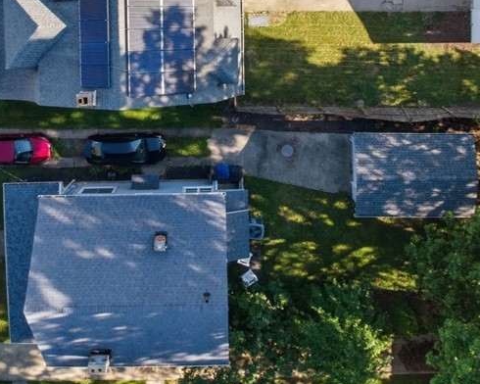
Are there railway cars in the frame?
No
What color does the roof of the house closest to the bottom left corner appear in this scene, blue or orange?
blue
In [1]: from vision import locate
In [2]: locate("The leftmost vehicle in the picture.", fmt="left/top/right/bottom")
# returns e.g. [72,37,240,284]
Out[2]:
[0,131,54,169]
